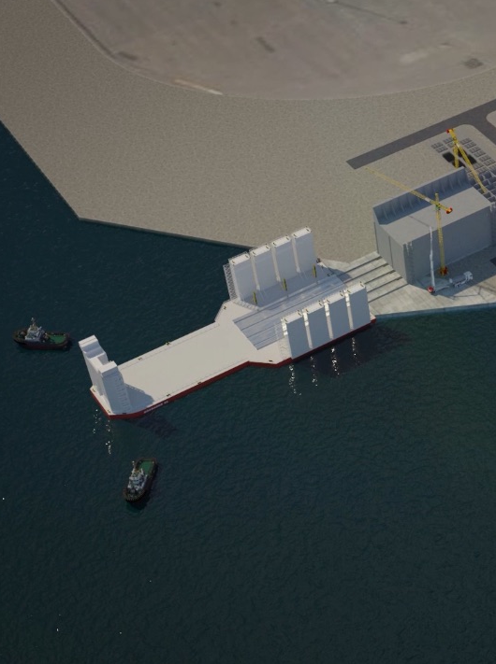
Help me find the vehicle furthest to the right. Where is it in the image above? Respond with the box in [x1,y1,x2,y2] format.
[450,273,471,286]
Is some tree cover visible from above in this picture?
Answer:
No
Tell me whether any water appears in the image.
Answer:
Yes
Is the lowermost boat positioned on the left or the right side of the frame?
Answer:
left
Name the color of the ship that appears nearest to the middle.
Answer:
white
